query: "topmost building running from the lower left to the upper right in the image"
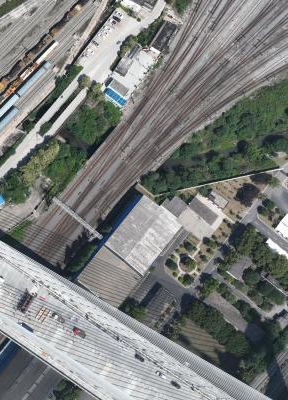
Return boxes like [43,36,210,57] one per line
[149,20,178,51]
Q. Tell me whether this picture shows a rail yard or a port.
rail yard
